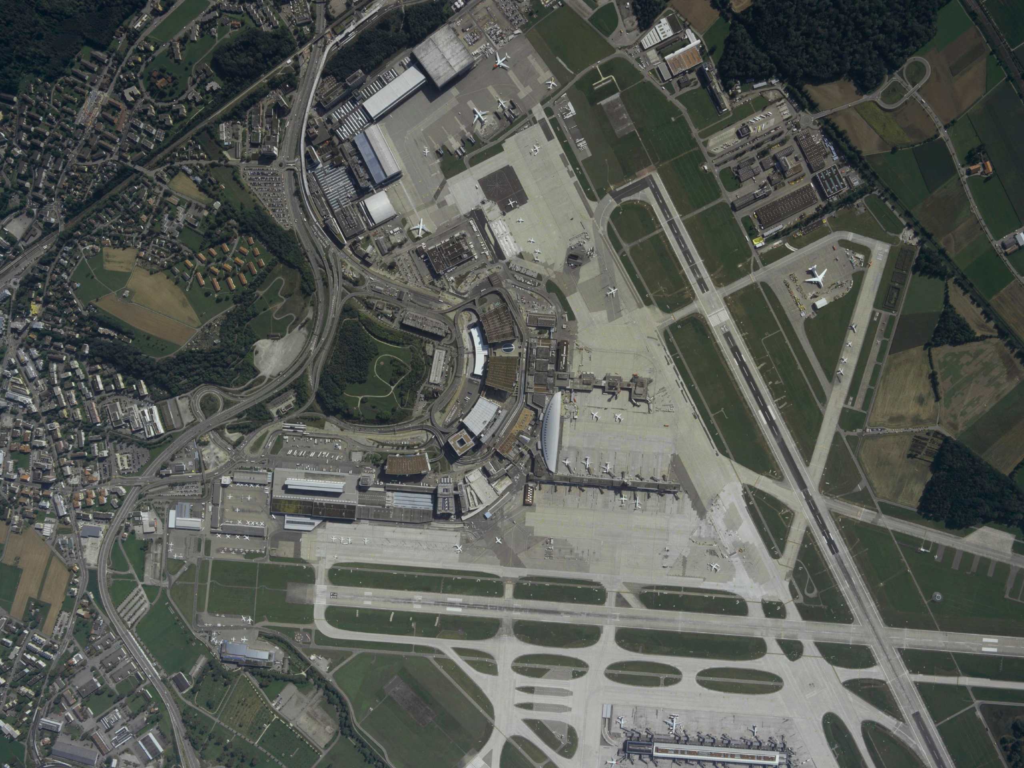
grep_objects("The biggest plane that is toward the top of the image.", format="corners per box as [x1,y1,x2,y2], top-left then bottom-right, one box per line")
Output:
[807,265,829,287]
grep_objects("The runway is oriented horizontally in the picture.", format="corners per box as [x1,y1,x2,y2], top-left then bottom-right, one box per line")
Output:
[315,585,1024,657]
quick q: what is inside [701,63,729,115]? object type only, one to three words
building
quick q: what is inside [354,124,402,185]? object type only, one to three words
hangar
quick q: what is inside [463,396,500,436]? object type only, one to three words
building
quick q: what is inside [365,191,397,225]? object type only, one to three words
hangar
